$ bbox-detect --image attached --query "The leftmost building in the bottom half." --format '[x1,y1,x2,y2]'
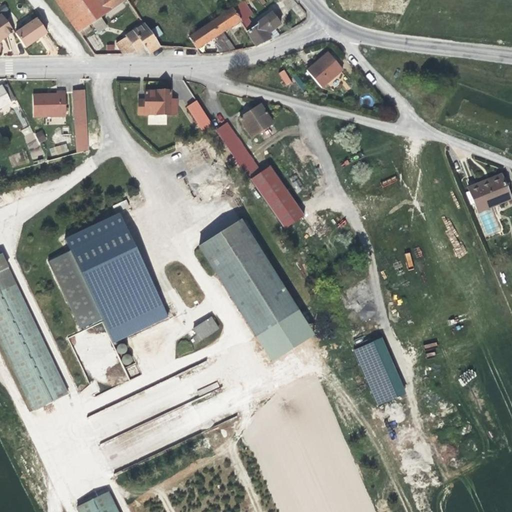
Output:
[0,250,68,411]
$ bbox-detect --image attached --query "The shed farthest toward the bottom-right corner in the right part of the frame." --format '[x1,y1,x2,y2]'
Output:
[354,338,406,406]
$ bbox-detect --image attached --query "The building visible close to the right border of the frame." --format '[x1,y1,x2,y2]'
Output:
[468,172,512,212]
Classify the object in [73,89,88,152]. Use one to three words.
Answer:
barn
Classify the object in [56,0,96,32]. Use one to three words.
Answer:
house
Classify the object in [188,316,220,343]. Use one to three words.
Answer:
shed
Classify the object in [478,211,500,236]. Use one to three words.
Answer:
swimming pool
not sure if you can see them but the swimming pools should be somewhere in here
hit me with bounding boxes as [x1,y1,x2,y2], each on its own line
[478,211,500,236]
[360,93,374,107]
